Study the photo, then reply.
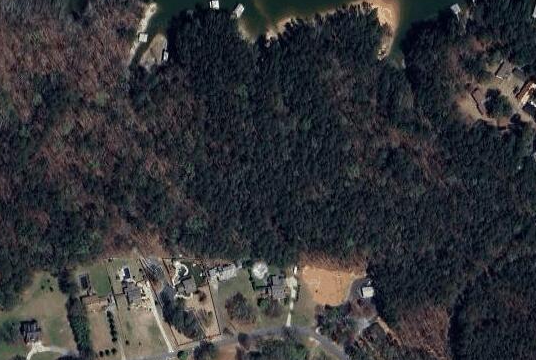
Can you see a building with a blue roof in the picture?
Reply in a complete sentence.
No, I can see no building with a blue roof in this picture.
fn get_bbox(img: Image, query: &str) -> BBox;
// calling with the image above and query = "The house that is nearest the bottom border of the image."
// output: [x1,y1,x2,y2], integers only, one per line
[22,320,39,341]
